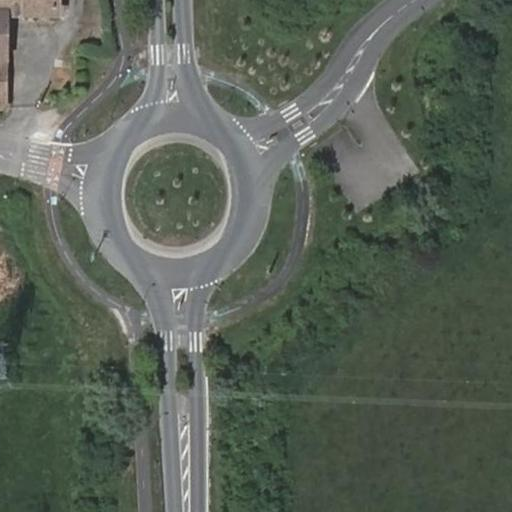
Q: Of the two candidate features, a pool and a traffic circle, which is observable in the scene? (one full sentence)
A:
Looking from above, you can make out a traffic circle.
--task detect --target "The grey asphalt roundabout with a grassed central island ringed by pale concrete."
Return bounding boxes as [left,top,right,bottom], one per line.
[48,63,311,332]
